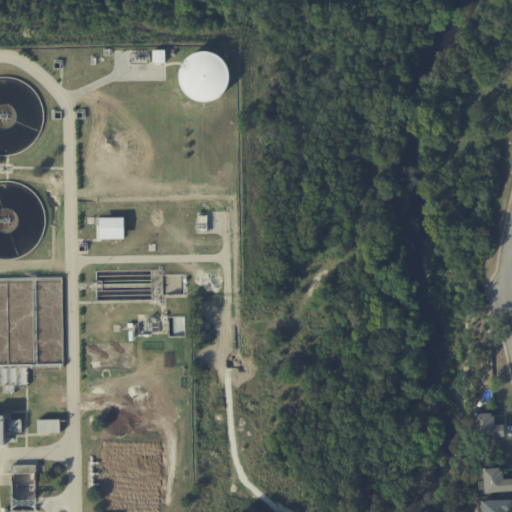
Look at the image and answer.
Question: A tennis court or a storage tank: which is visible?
storage tank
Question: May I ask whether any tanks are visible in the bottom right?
No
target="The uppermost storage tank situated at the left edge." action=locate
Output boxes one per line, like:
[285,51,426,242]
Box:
[0,76,44,156]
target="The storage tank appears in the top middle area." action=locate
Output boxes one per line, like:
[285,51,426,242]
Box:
[178,50,229,102]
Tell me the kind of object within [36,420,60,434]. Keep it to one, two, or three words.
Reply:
building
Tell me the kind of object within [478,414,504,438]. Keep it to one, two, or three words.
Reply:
house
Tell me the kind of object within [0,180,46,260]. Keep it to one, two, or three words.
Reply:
storage tank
